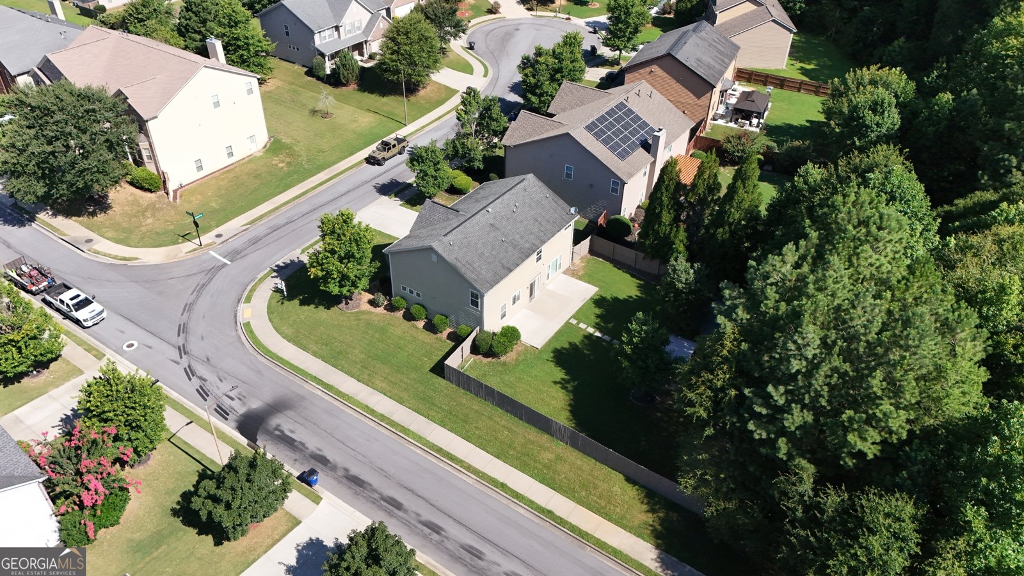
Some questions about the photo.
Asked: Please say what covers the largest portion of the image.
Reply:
trees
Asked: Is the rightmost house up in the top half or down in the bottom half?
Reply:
top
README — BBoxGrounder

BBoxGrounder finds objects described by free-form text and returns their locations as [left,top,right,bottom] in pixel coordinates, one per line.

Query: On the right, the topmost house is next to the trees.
[703,0,798,68]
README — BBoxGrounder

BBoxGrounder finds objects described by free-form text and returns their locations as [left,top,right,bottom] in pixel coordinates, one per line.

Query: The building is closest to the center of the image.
[383,174,580,339]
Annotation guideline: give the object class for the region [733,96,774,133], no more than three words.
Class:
gazebo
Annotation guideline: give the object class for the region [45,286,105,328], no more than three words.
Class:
truck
